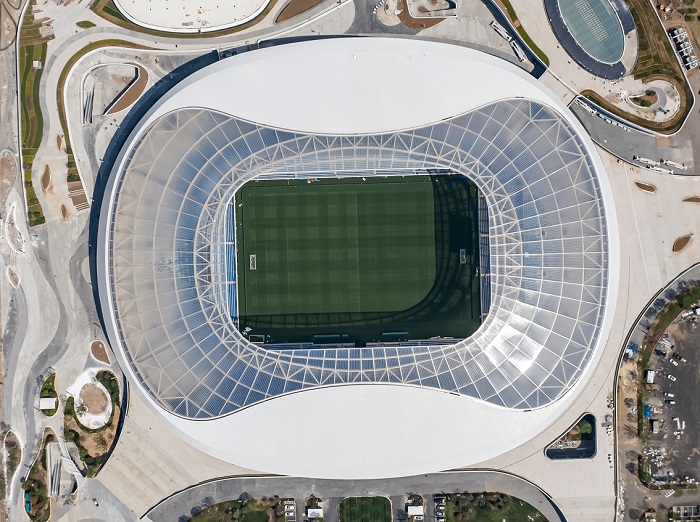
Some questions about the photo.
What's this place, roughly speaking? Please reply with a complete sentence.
The picture captures a sports ground.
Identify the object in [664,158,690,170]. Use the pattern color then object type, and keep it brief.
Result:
white vehicle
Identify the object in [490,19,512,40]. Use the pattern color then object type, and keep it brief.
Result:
white bus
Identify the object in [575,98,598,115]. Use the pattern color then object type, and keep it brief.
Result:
white vehicle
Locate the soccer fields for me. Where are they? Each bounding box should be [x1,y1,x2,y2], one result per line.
[234,177,480,348]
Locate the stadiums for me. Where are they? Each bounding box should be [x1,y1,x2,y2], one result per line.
[98,40,619,478]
